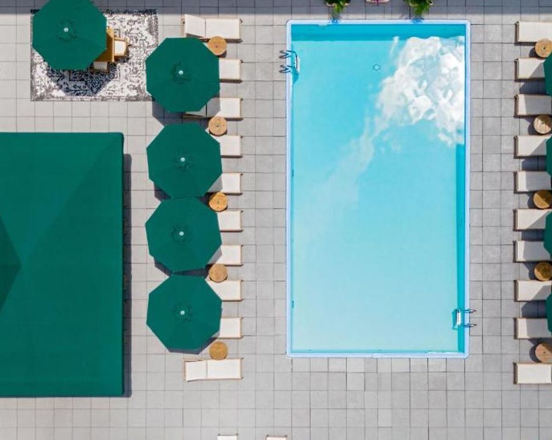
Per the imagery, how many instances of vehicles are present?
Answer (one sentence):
Not a single vehicle can be seen.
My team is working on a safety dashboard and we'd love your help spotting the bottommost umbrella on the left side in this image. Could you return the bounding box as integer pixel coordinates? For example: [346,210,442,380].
[145,276,221,352]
